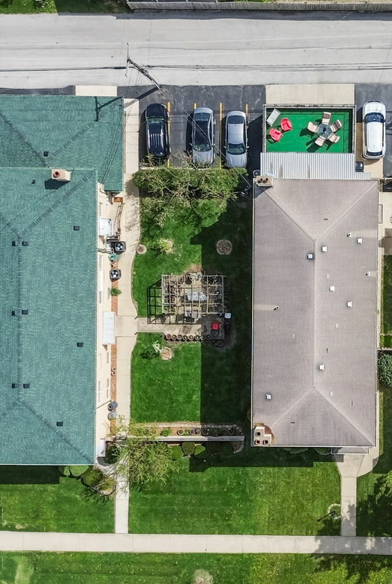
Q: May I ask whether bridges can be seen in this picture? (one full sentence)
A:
No, the photo shows no bridge.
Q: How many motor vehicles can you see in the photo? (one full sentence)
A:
Looking from above, you can make out 4 motor vehicles.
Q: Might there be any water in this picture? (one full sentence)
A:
No, the picture contains no water.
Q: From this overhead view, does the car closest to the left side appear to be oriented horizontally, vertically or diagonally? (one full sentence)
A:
In this picture, the car closest to the left side is oriented vertically.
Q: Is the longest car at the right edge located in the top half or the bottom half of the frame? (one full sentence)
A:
It is in the top half that the longest car at the right edge appears.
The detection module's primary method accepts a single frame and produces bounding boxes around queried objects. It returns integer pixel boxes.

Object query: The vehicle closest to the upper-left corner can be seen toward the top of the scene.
[143,105,173,165]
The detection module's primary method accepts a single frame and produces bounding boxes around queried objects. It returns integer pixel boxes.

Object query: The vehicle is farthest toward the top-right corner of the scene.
[360,103,388,160]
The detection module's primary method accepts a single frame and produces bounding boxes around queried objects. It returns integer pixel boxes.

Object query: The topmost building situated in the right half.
[262,101,356,173]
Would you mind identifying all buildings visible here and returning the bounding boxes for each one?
[262,101,356,173]
[250,177,384,454]
[0,167,116,467]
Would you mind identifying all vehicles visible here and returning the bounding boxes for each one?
[190,108,216,165]
[143,105,173,165]
[222,112,249,171]
[360,103,388,160]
